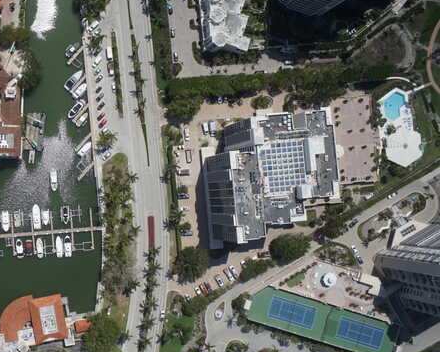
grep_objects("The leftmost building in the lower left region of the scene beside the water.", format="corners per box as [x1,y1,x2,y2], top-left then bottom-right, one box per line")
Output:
[0,294,68,352]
